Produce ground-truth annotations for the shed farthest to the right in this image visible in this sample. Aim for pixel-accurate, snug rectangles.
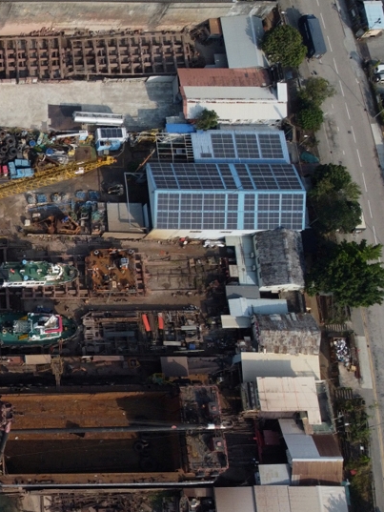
[357,0,384,34]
